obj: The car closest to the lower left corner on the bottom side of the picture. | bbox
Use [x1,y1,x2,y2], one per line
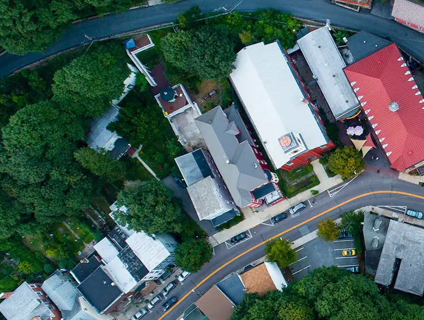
[131,308,148,320]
